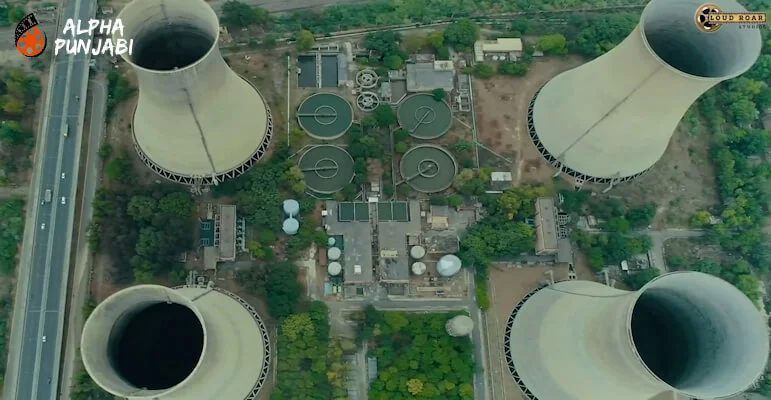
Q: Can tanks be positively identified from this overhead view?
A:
Yes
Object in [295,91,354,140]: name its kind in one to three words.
storage tank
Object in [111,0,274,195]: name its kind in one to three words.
cooling tower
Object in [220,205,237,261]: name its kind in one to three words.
building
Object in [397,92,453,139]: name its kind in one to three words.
storage tank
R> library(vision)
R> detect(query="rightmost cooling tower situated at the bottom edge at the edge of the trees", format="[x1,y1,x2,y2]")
[503,267,769,400]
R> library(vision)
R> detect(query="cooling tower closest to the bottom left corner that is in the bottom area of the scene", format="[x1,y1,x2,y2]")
[78,272,272,400]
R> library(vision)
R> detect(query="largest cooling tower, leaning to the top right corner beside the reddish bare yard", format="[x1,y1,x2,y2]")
[527,0,763,193]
